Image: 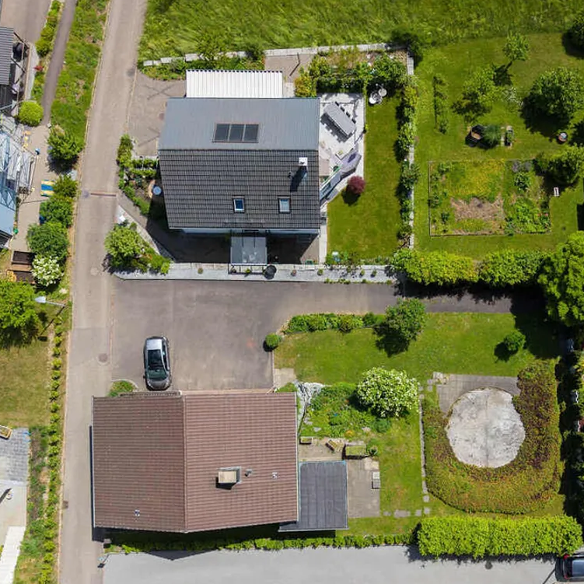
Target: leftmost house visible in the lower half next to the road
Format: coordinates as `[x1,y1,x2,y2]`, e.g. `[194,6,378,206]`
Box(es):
[91,393,300,534]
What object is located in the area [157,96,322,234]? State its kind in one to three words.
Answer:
house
